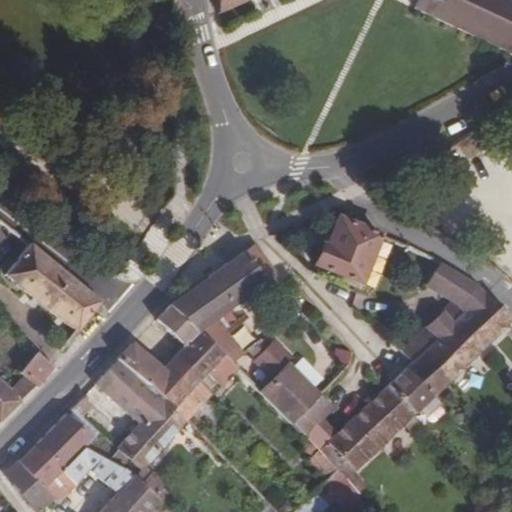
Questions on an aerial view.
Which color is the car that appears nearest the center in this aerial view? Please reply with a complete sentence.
The car that appears nearest the center is white.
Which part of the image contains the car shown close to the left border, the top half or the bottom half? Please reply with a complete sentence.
The car shown close to the left border sits in the bottom half of the picture.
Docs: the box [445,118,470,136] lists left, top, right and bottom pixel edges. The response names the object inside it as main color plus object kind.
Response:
white vehicle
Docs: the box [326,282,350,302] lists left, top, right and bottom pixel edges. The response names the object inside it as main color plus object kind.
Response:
white car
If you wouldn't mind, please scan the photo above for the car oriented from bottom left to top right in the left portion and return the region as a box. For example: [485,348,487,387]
[6,435,27,455]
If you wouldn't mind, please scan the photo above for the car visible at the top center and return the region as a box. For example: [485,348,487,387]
[204,44,217,68]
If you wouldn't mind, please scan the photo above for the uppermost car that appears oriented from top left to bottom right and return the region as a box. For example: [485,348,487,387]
[472,157,490,180]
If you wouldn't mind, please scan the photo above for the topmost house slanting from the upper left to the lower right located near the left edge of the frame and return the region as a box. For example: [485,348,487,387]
[6,242,103,332]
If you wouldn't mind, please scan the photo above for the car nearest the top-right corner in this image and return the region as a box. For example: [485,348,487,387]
[486,86,508,102]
